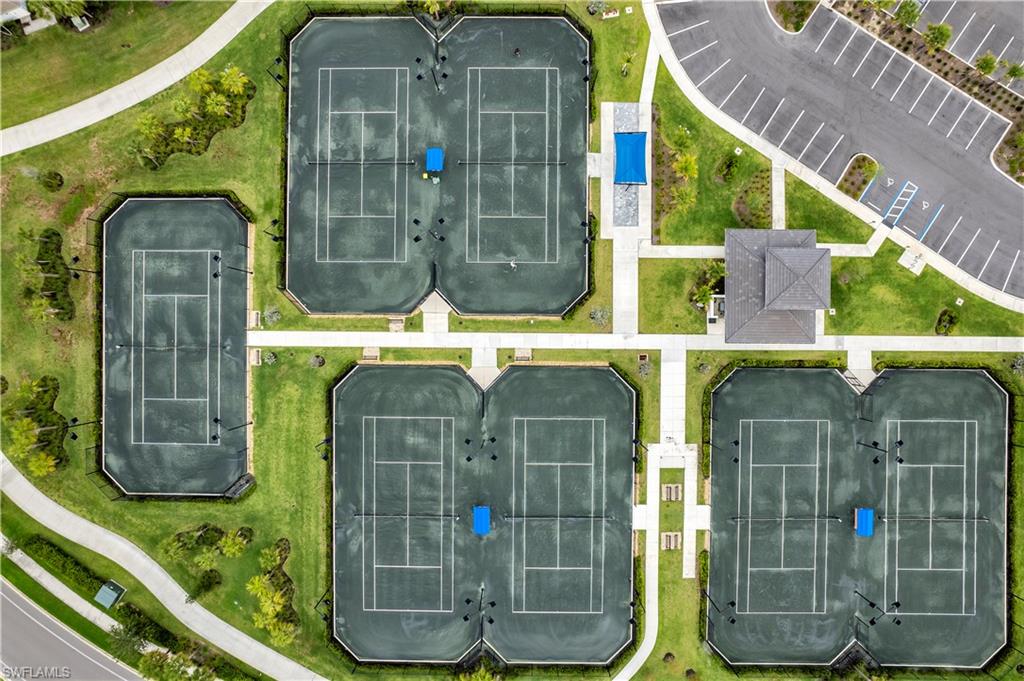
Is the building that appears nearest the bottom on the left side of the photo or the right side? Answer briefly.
right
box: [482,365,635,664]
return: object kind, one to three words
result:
tennis court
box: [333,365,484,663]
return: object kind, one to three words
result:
tennis court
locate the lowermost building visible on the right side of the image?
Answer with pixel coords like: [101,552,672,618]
[721,228,831,344]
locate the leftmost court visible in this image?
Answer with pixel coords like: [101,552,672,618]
[103,198,249,495]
